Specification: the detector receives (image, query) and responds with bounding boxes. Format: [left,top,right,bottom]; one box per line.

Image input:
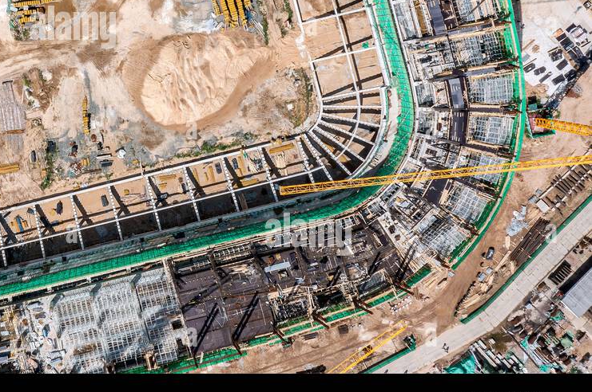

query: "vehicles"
[569,23,592,44]
[485,245,497,262]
